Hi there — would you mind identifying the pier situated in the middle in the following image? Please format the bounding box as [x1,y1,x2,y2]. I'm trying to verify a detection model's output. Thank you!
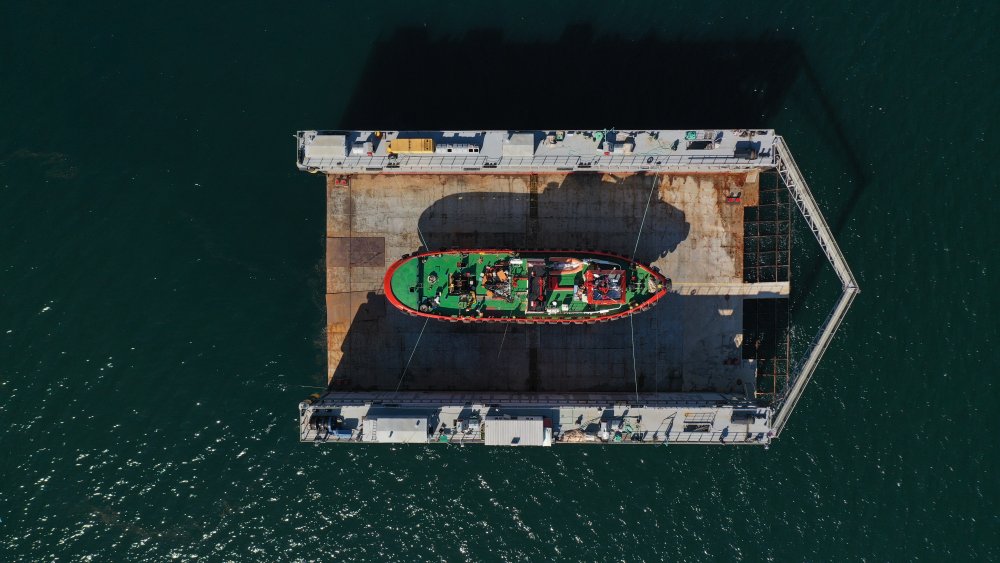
[296,131,793,444]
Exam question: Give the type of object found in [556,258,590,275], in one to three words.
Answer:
boat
